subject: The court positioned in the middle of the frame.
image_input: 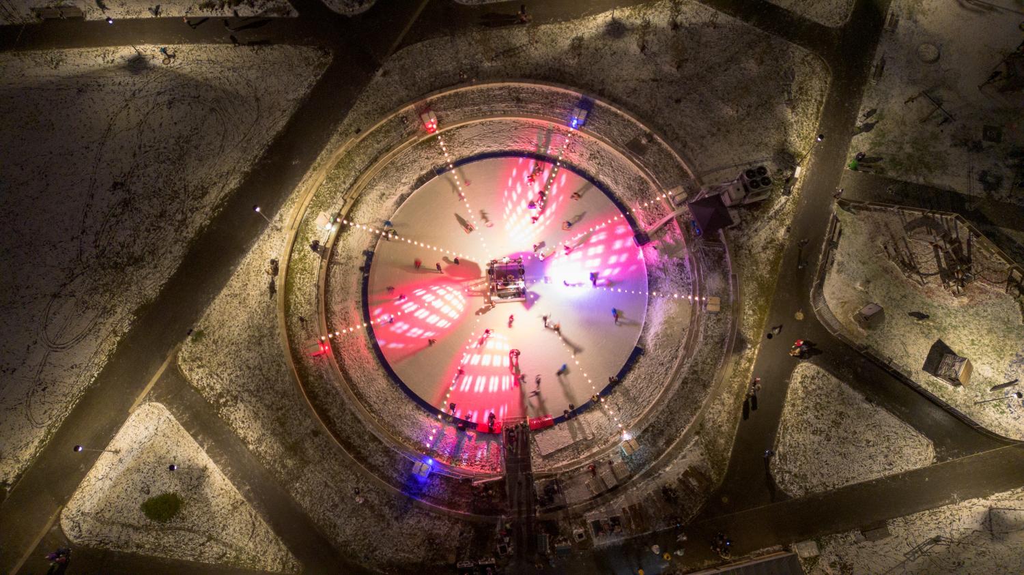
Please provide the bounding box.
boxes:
[368,158,646,428]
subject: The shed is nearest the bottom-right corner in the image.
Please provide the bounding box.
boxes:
[934,349,973,385]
